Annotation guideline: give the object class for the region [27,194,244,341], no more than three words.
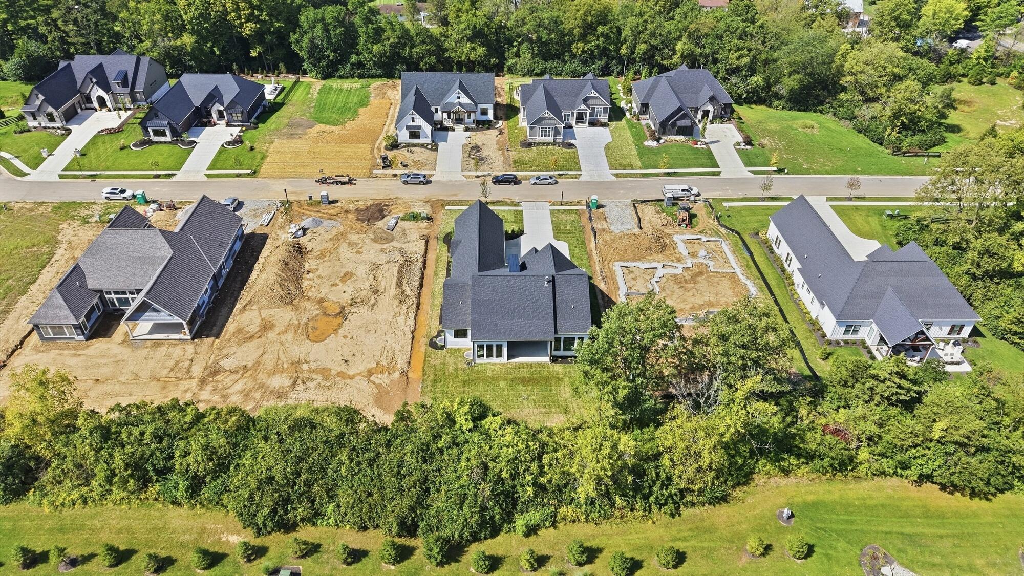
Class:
house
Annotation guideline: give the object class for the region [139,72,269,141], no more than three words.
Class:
house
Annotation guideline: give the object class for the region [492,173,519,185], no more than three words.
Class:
vehicle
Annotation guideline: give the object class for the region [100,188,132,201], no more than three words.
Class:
vehicle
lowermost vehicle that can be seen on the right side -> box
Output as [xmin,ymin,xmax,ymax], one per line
[676,202,694,229]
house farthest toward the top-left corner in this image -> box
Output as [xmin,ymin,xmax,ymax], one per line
[15,42,171,127]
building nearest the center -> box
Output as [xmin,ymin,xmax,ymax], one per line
[436,198,591,362]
